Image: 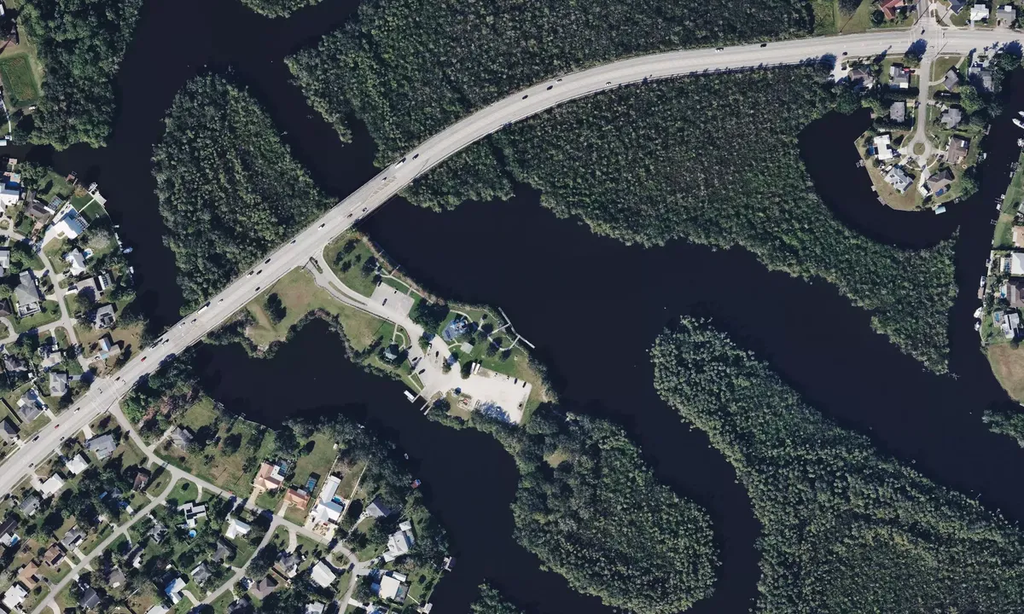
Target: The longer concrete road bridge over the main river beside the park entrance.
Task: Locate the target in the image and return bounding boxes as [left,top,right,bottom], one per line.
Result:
[322,164,407,239]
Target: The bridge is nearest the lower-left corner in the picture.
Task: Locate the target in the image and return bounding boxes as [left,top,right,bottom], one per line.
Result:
[142,307,219,369]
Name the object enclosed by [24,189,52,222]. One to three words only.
house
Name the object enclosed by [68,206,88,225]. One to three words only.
swimming pool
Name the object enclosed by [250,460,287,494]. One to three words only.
house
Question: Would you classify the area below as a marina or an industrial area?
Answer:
marina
